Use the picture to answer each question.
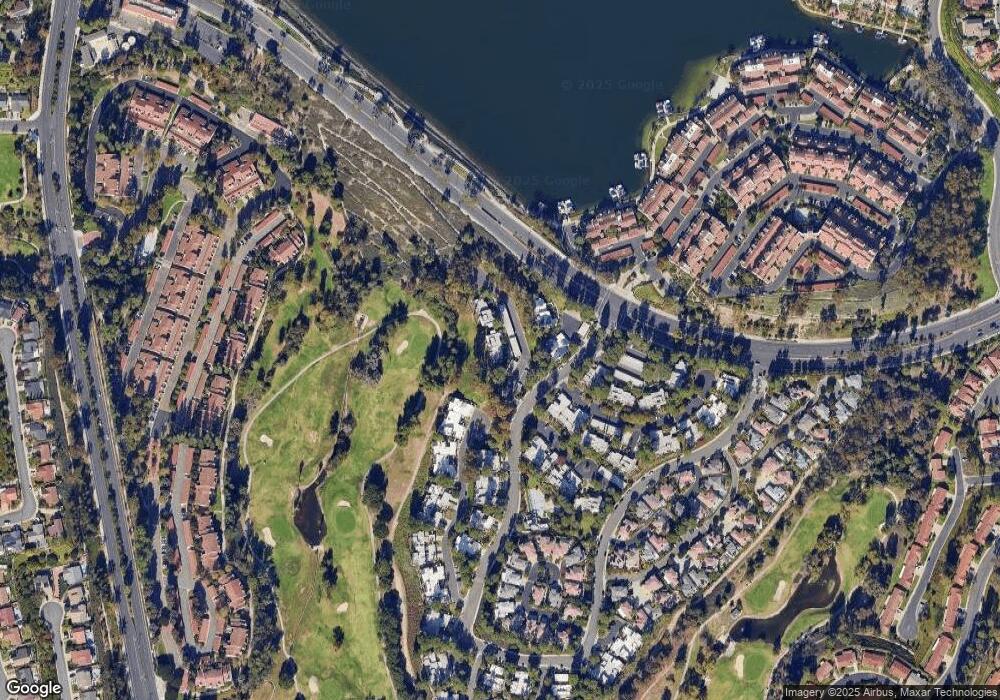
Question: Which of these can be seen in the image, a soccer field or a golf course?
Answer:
golf course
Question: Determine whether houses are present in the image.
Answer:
Yes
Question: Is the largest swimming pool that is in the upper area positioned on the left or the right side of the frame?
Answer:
right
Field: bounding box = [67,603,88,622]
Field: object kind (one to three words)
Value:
house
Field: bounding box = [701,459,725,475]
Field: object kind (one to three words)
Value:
house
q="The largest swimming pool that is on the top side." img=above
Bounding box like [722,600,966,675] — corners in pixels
[792,203,813,223]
